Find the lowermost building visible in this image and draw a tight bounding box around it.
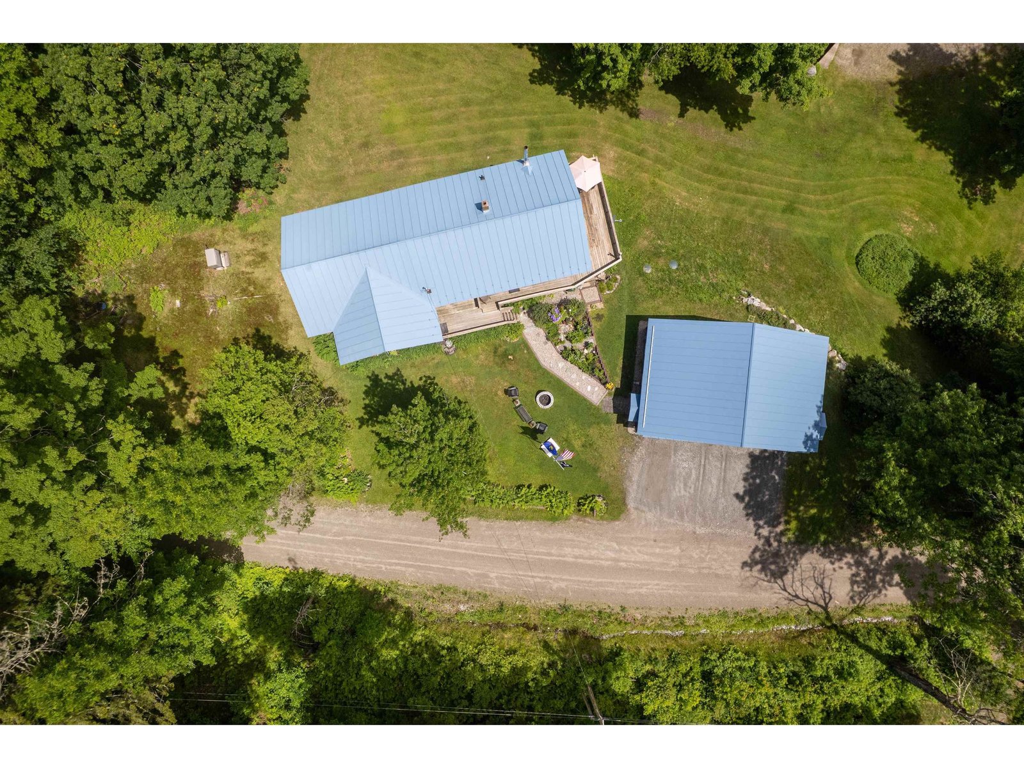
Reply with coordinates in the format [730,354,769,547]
[628,318,829,452]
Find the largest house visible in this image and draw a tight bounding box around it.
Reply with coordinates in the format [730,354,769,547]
[281,145,592,363]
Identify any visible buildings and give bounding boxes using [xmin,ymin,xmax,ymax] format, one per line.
[281,145,592,363]
[628,318,829,452]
